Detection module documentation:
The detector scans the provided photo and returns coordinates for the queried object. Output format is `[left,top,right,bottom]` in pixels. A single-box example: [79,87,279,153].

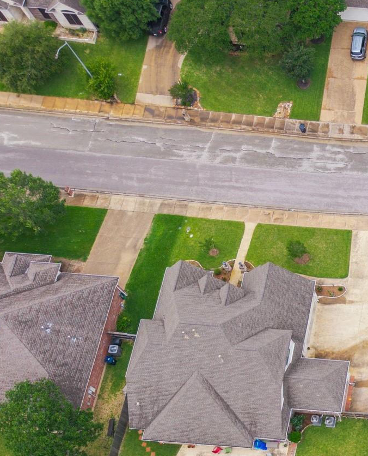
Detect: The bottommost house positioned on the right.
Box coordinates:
[125,260,352,454]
